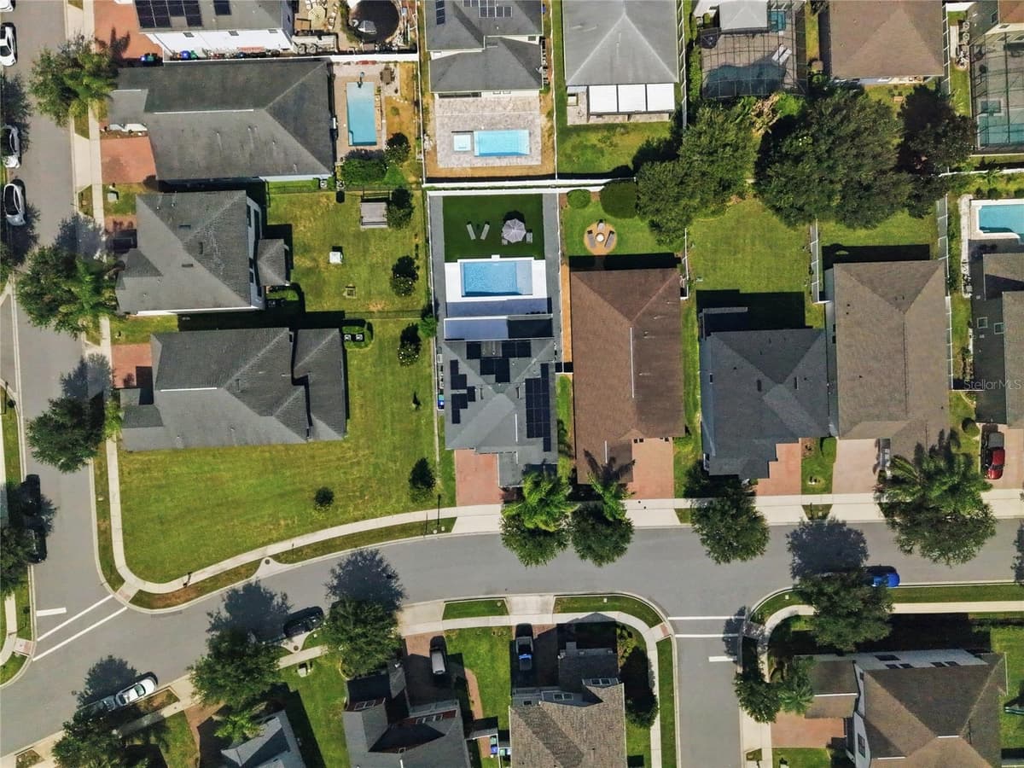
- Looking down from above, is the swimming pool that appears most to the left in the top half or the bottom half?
top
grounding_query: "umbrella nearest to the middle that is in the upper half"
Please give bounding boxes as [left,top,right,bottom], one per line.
[502,219,526,243]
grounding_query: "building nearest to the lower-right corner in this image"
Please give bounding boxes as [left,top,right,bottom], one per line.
[797,649,1005,768]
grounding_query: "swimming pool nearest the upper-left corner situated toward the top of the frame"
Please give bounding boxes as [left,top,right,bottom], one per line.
[343,78,379,149]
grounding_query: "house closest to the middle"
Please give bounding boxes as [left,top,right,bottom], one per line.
[442,312,558,487]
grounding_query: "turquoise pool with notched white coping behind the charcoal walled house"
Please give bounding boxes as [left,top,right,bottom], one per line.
[975,199,1024,239]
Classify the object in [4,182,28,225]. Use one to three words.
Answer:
car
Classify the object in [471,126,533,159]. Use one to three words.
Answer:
swimming pool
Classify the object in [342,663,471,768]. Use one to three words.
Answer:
house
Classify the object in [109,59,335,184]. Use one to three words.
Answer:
house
